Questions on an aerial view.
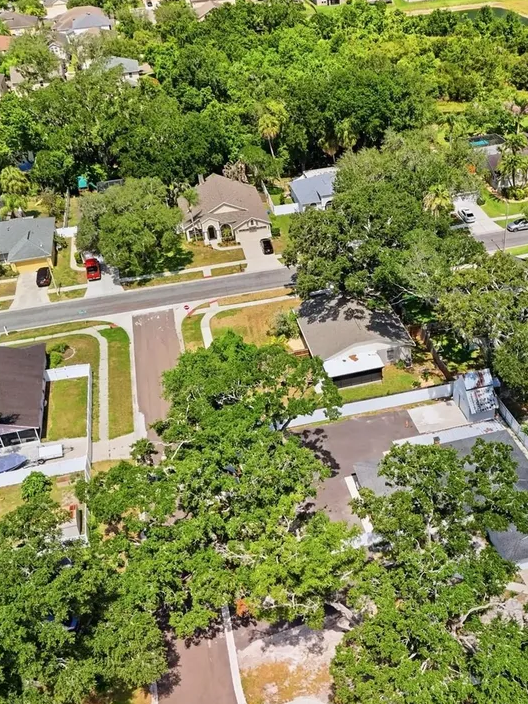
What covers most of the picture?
trees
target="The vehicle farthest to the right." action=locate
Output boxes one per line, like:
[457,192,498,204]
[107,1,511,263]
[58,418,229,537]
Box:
[504,216,528,232]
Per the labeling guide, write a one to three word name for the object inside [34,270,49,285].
car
